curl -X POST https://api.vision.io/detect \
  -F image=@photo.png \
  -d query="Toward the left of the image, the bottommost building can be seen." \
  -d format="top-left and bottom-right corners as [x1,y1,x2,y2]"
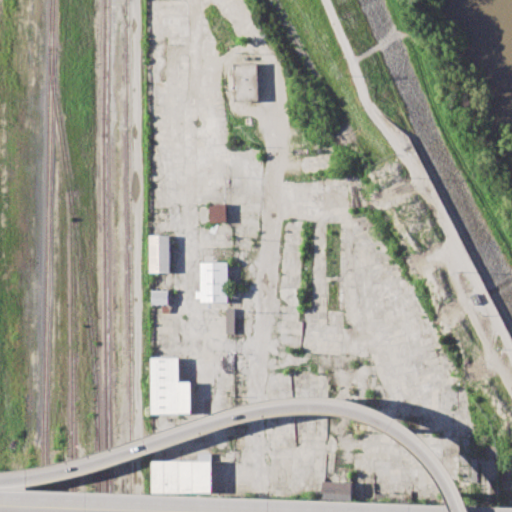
[150,452,212,494]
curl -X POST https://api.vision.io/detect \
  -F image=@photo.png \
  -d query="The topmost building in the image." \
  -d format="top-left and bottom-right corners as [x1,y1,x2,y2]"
[234,64,257,102]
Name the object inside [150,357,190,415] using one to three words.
building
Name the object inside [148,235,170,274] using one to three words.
building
